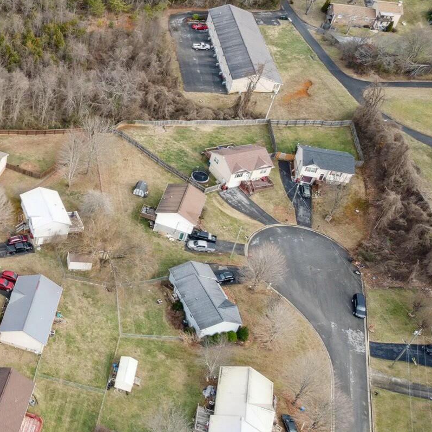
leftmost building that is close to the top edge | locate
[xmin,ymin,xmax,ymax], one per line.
[204,4,283,96]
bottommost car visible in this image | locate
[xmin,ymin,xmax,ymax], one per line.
[280,412,300,432]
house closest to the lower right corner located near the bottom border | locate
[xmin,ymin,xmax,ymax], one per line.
[193,365,283,432]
